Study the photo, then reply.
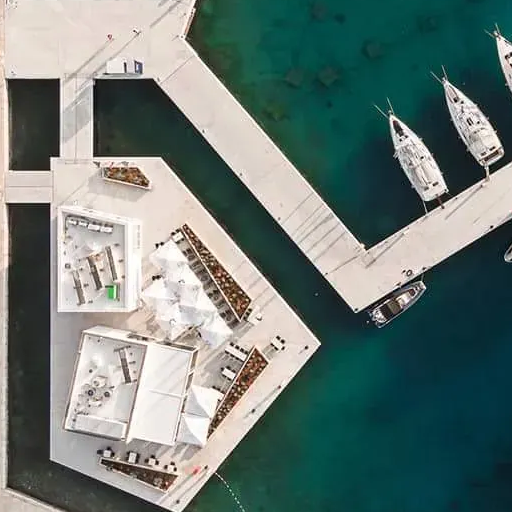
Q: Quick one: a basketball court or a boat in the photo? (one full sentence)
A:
There is a boat in the scene.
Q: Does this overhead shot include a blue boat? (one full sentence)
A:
No, there appears to be no blue boat in this shot.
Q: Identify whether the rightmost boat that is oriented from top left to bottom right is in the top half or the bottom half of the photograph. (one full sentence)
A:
The top half of the photo is where the rightmost boat that is oriented from top left to bottom right is.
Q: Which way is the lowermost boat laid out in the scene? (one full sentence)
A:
In this picture, the lowermost boat is oriented at an angle.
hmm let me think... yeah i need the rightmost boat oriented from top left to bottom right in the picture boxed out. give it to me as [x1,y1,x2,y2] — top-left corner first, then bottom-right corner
[432,67,508,170]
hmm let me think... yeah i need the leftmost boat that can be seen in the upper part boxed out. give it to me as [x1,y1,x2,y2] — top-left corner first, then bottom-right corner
[381,101,454,214]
